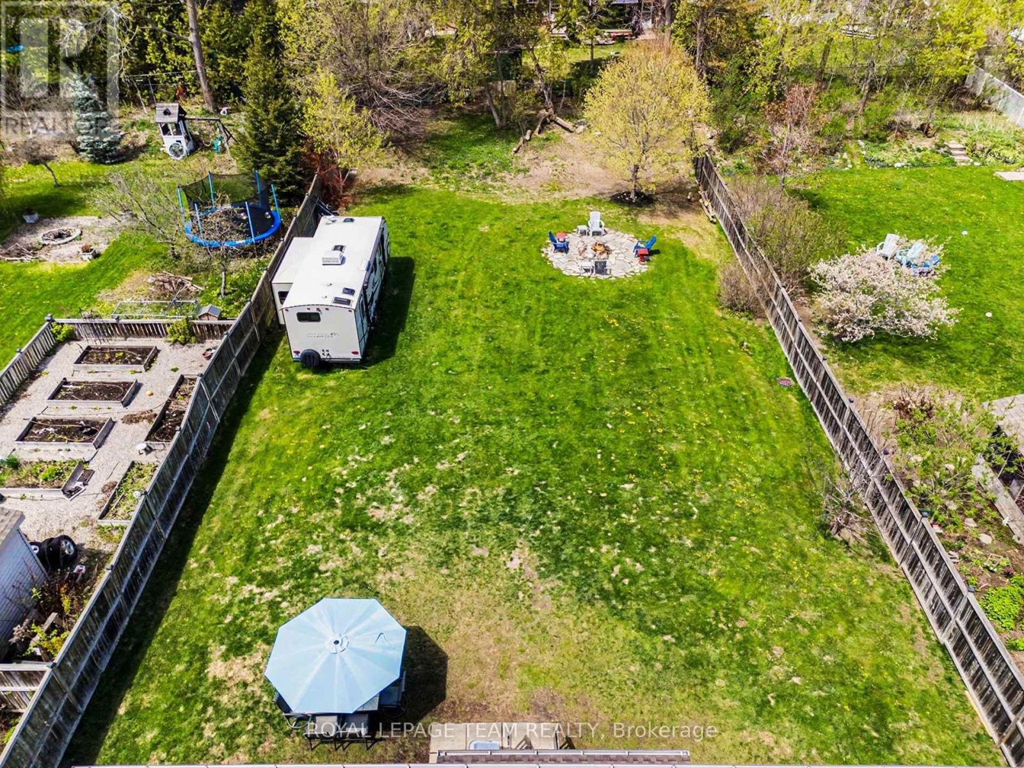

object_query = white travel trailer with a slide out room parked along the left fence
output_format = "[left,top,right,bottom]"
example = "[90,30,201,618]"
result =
[265,215,389,370]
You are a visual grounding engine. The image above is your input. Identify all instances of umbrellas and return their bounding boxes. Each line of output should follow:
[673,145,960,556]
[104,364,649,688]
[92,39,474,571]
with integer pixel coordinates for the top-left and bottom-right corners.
[263,600,409,724]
